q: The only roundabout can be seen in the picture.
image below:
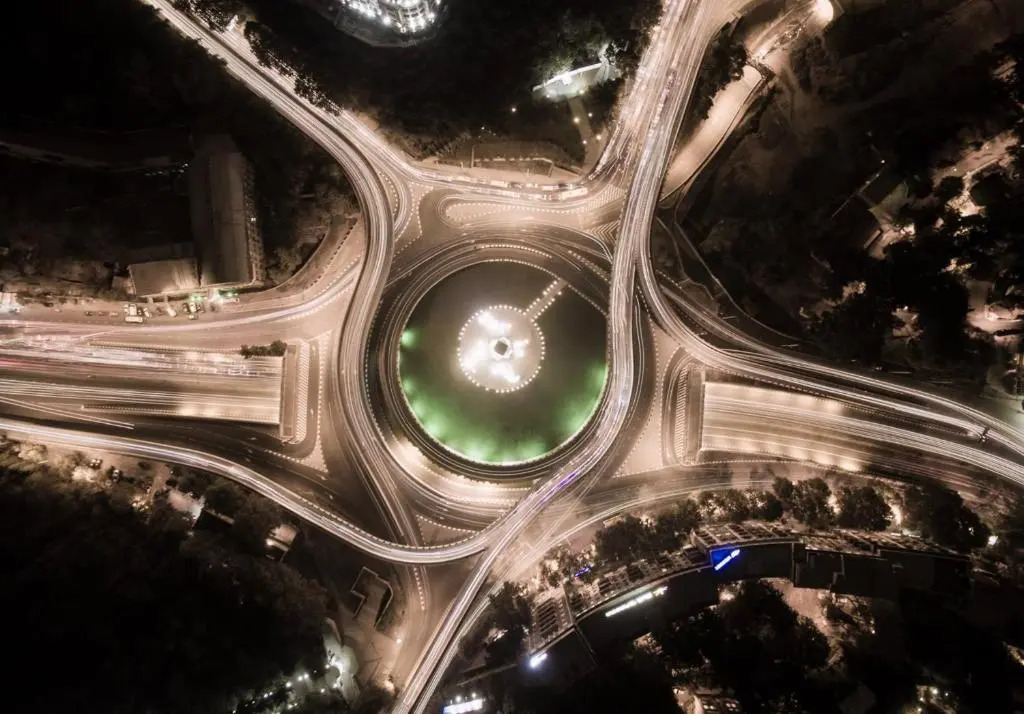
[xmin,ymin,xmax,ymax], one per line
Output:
[361,212,635,514]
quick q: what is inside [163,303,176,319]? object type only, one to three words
vehicle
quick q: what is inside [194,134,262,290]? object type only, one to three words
building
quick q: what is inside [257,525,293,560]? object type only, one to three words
house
